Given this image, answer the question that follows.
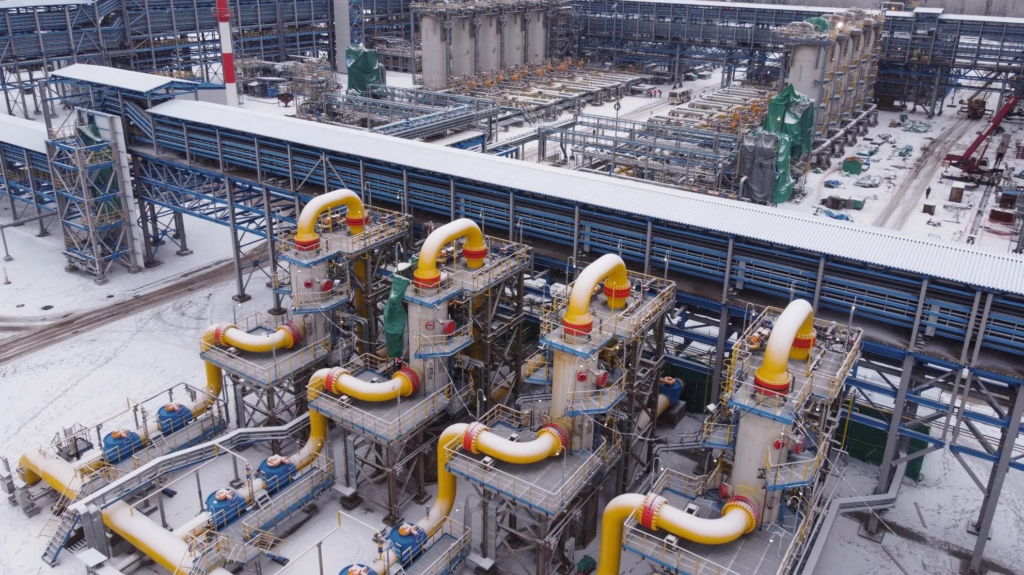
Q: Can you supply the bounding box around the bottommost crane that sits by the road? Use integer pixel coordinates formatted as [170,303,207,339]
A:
[938,95,1024,190]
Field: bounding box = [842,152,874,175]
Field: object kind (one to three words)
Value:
shed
